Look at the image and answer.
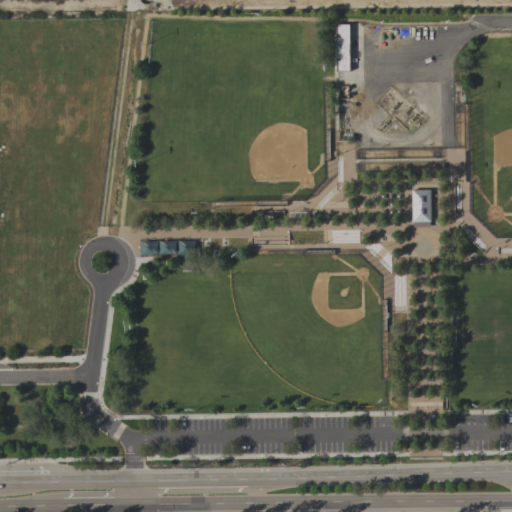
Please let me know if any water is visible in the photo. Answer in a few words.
No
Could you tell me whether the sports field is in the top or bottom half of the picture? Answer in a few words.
bottom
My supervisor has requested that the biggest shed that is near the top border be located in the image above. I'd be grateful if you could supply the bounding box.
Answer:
[338,23,351,70]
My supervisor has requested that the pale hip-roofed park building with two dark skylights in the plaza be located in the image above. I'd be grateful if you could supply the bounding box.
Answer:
[412,188,432,227]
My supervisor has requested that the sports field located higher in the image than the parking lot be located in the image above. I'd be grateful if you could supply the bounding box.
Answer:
[447,262,512,410]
